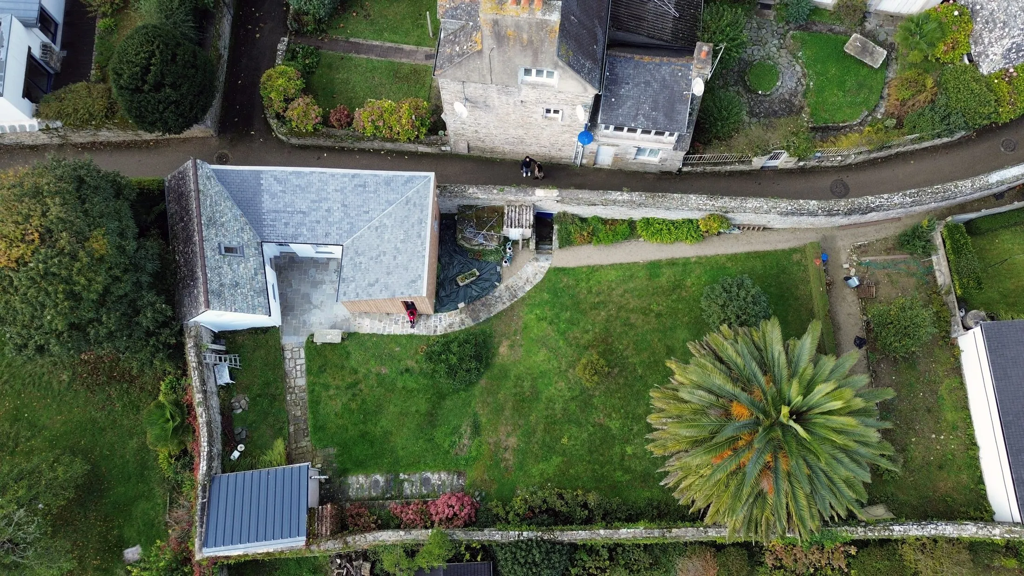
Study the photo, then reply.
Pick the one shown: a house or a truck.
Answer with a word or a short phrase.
house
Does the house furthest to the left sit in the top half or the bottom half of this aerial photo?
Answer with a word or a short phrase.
top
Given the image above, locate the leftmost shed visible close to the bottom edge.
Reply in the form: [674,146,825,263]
[202,462,320,557]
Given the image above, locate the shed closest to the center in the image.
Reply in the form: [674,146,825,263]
[504,204,534,250]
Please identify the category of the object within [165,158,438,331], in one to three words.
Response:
house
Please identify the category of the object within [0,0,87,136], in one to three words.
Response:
house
